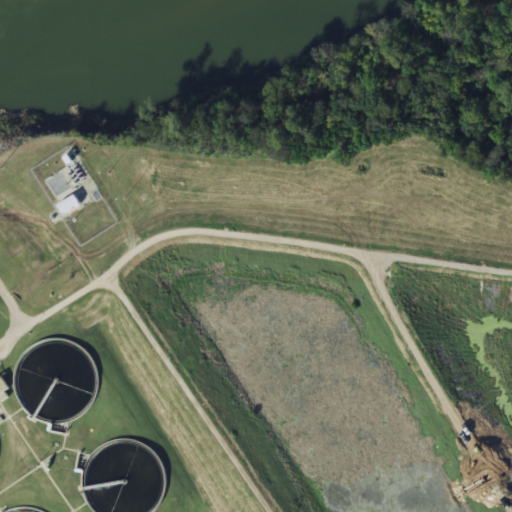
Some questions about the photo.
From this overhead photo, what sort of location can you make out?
industrial area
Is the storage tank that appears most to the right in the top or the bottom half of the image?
bottom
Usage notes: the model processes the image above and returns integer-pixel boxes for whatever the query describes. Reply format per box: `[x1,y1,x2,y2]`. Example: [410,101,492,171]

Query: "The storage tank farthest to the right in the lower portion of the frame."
[76,438,167,512]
